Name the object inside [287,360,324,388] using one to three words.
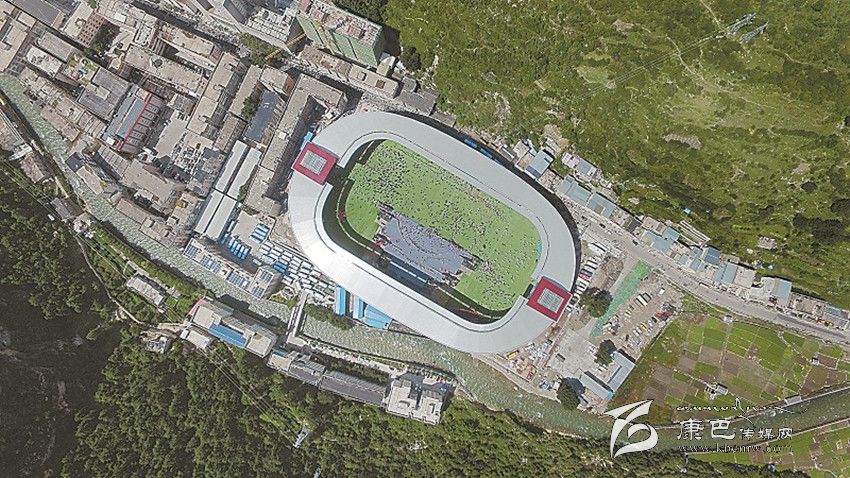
house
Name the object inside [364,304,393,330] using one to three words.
shed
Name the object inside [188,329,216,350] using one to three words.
building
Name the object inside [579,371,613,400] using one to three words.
shed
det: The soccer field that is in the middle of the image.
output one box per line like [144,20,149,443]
[340,148,537,309]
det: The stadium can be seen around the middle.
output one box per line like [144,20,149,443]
[285,113,578,356]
